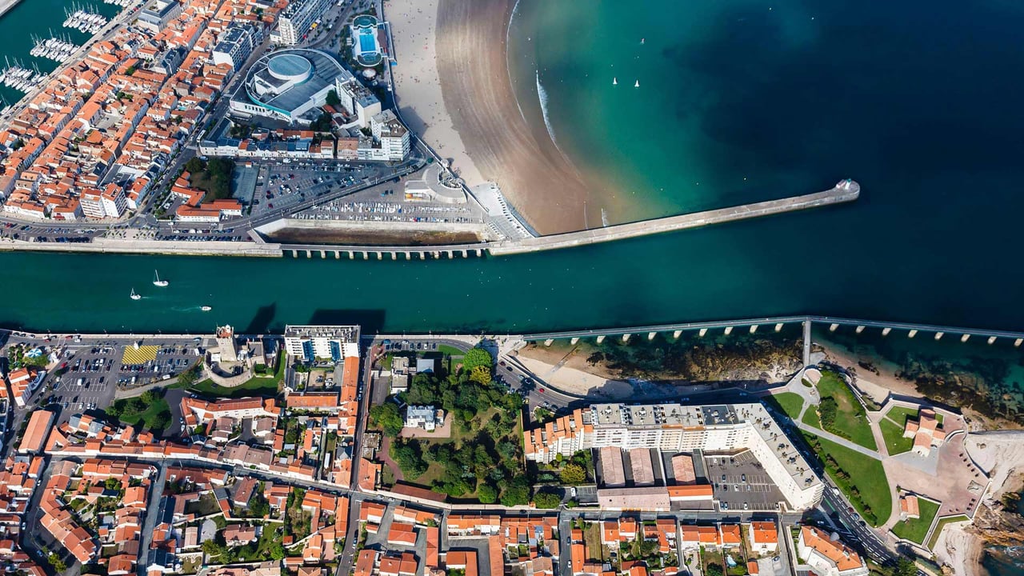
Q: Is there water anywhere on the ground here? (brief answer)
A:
Yes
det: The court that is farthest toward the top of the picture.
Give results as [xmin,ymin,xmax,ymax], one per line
[232,164,260,205]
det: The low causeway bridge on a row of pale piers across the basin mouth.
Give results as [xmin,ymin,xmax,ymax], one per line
[276,240,492,258]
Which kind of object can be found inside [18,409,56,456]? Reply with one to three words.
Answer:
building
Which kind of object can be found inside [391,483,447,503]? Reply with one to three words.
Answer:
shed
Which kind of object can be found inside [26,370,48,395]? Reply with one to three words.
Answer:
house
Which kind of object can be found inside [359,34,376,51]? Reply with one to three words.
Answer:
swimming pool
